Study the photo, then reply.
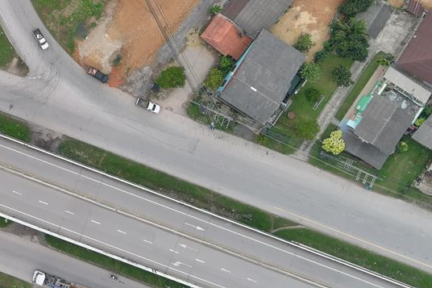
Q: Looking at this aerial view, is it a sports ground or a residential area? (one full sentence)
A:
It's a residential area.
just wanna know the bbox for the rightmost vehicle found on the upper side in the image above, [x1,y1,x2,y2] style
[134,96,160,114]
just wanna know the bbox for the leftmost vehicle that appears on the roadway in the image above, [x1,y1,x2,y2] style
[30,26,49,52]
